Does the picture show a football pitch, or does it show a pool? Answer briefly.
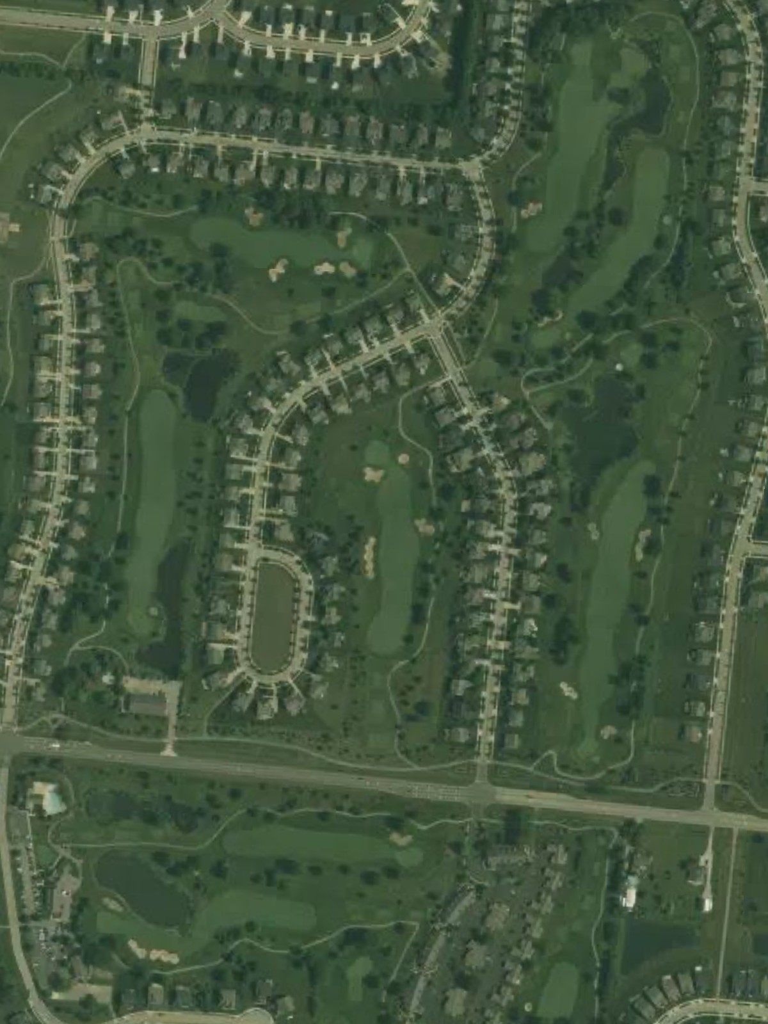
pool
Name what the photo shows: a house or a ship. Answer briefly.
house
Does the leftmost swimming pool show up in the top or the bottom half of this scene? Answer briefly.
bottom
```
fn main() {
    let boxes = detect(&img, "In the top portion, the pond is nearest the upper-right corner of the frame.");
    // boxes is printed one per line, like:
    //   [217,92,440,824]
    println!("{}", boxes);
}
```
[598,66,671,194]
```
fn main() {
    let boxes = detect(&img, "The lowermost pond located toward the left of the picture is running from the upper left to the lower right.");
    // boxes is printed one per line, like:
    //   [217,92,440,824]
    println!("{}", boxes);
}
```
[94,847,190,930]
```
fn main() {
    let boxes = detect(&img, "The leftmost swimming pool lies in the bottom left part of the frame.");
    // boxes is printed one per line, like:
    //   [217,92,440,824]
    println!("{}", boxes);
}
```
[27,782,66,815]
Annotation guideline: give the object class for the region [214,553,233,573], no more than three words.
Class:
house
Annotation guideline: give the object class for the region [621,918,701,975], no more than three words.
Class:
pond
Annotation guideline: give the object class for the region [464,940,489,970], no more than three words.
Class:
building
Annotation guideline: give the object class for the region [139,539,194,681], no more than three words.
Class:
pond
